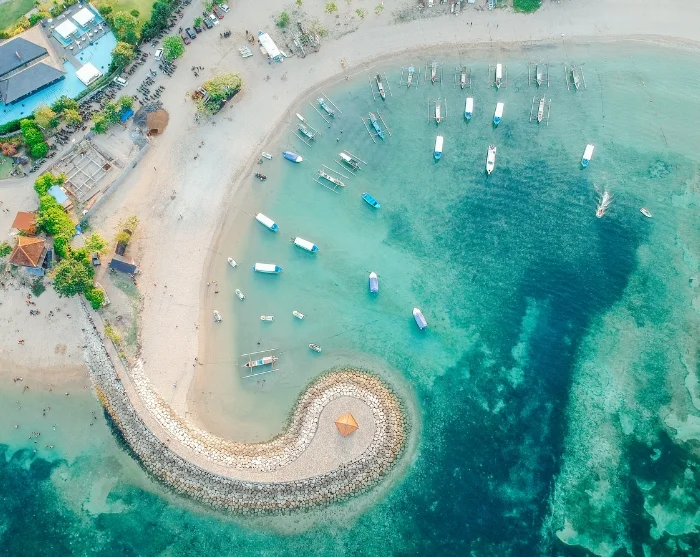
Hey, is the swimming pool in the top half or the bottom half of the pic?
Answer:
top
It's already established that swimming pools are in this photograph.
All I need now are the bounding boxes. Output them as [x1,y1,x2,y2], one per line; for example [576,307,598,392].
[0,1,113,125]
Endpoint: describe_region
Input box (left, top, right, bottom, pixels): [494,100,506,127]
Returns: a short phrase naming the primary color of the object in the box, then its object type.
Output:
white boat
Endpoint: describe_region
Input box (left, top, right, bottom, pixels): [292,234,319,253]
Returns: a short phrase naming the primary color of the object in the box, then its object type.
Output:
white boat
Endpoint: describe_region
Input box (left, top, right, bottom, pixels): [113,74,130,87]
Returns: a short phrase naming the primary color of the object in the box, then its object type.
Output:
white vehicle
